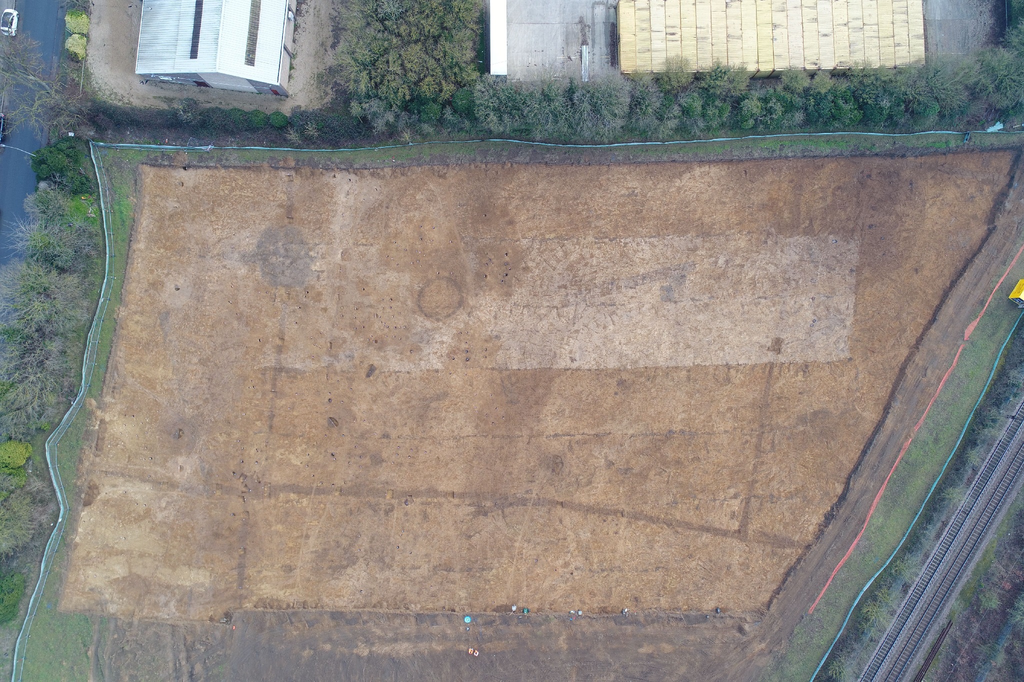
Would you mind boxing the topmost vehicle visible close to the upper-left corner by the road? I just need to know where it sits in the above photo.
[3,9,20,36]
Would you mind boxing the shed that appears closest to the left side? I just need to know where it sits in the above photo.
[133,0,299,97]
